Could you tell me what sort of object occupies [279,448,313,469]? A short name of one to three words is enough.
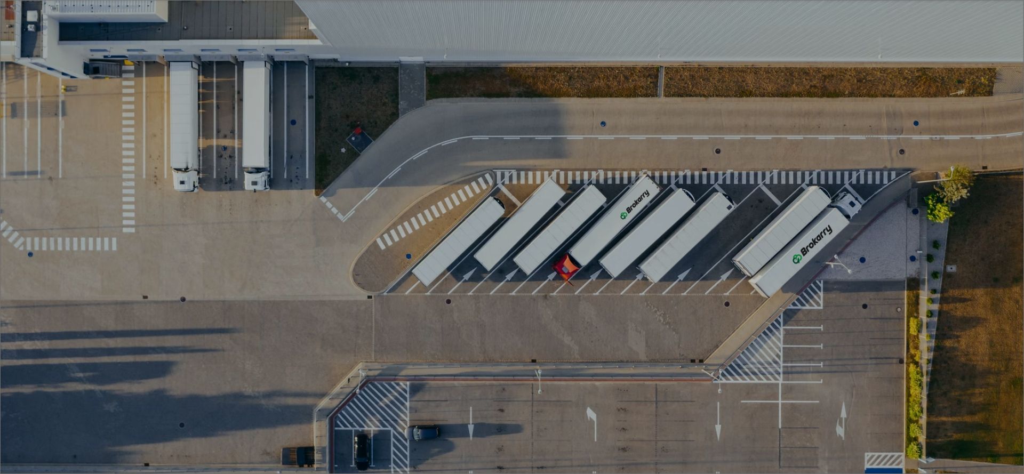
truck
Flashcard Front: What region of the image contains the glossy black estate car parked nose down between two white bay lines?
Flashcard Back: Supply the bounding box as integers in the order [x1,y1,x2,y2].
[353,433,371,471]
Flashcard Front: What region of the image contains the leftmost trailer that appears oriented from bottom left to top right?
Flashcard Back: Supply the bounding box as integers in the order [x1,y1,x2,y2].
[413,196,506,286]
